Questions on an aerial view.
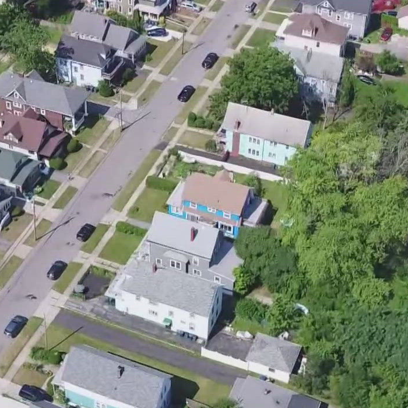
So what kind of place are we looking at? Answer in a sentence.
This looks like a residential area.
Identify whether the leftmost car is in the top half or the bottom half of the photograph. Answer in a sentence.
Seen from above, the leftmost car lies in the bottom half of the view.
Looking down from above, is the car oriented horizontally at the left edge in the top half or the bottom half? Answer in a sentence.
The car oriented horizontally at the left edge is in the bottom half of the image.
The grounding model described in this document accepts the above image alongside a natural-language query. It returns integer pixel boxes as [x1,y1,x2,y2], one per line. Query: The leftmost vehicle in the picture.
[2,314,27,339]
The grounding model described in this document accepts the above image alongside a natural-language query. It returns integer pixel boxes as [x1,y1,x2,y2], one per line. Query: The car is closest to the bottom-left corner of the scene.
[14,383,53,405]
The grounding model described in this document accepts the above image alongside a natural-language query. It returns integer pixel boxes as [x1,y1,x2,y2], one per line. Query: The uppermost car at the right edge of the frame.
[374,7,398,20]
